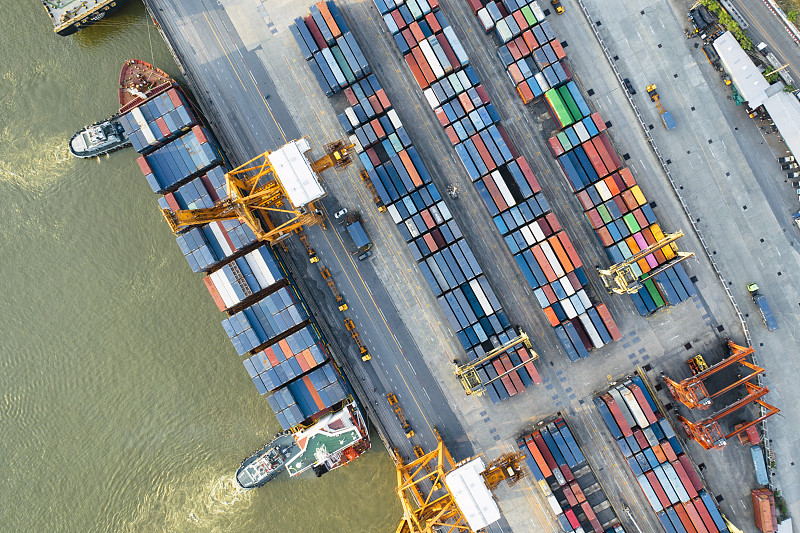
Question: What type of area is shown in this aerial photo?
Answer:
port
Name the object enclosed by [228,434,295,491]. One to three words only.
boat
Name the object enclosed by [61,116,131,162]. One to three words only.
boat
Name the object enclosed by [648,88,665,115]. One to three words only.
vehicle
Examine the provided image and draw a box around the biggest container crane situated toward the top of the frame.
[151,132,363,256]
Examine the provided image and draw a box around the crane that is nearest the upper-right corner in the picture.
[592,228,694,294]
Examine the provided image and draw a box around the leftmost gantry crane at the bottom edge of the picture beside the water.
[396,442,540,533]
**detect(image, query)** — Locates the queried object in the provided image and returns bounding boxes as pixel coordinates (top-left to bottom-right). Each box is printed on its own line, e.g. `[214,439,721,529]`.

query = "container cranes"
[151,132,363,256]
[592,228,694,294]
[657,333,766,408]
[671,370,782,449]
[396,442,540,533]
[453,322,541,395]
